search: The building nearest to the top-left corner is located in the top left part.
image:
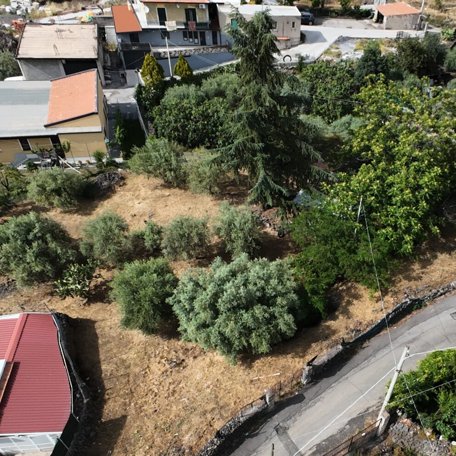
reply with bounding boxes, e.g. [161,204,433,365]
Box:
[17,22,103,90]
